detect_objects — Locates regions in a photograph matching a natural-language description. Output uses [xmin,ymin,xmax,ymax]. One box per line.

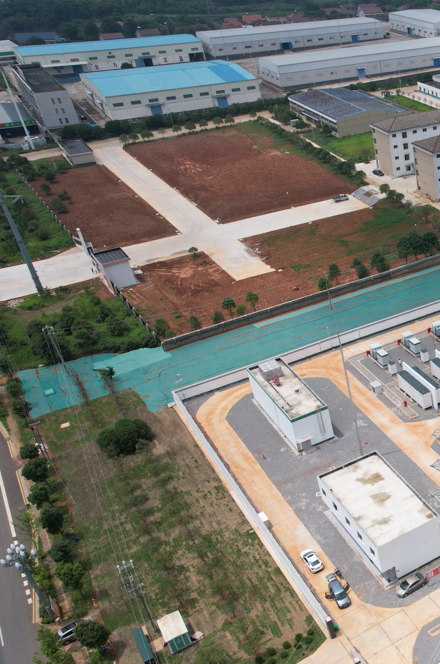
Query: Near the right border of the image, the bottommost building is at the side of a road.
[316,449,440,596]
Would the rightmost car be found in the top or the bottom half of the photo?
bottom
